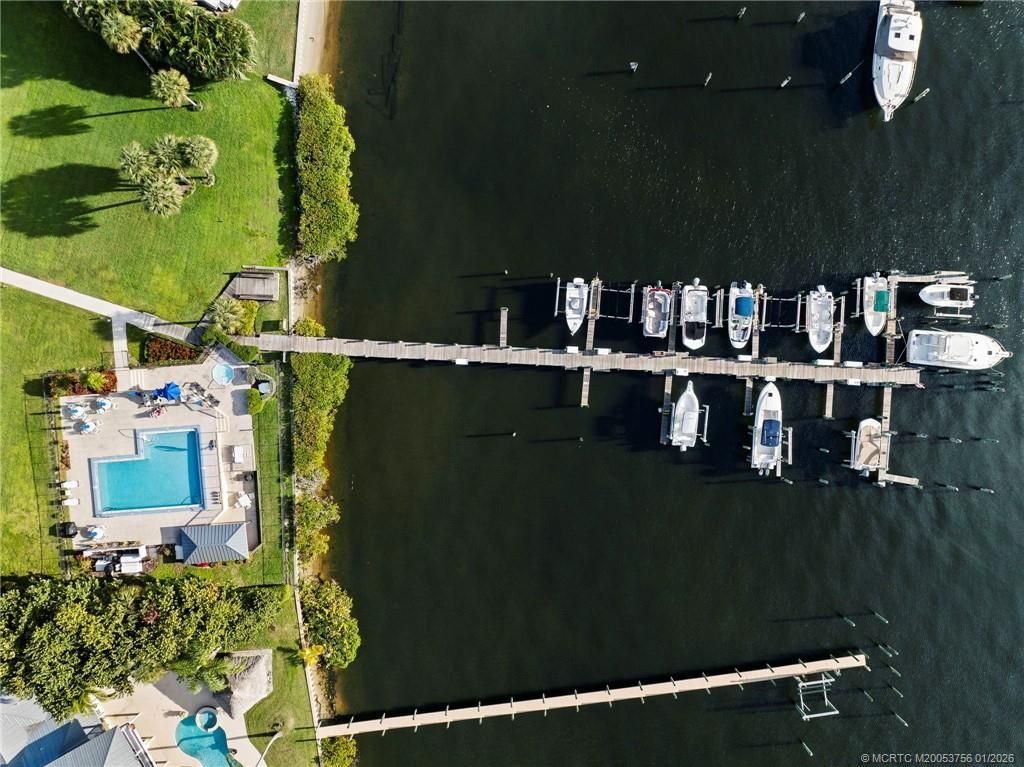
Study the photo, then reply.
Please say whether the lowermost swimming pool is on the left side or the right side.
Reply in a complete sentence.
You can find the lowermost swimming pool on the left side of the picture.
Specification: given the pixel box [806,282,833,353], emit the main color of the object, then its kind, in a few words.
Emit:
white boat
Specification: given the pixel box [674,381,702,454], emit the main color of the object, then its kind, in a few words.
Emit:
white boat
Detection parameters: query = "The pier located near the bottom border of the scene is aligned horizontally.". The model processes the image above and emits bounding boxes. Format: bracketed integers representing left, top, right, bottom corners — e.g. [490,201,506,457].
[317,648,868,741]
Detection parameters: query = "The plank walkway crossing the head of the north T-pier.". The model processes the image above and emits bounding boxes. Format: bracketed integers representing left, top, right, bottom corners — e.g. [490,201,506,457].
[885,269,970,286]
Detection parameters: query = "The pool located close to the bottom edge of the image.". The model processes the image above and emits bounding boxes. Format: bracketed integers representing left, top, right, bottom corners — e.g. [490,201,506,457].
[176,708,231,767]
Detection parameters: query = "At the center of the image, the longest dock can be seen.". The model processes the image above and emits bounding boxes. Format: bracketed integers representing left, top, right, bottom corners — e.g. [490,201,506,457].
[262,333,920,389]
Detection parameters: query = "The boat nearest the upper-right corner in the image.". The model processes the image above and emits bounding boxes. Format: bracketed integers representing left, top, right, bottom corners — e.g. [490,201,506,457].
[869,0,926,122]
